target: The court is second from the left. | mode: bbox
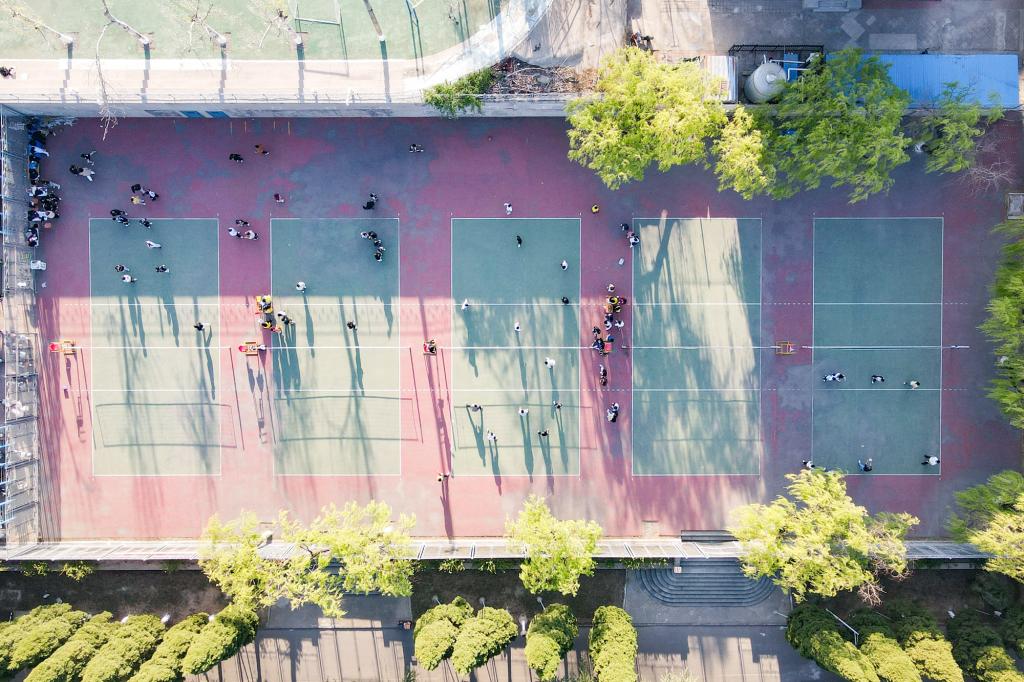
[246,213,426,480]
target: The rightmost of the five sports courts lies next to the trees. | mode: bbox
[787,212,968,480]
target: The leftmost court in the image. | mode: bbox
[65,214,244,480]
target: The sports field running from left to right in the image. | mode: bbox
[0,0,552,91]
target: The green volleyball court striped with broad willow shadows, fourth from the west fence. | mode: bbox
[606,212,786,480]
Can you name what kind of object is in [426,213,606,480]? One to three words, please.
sports court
